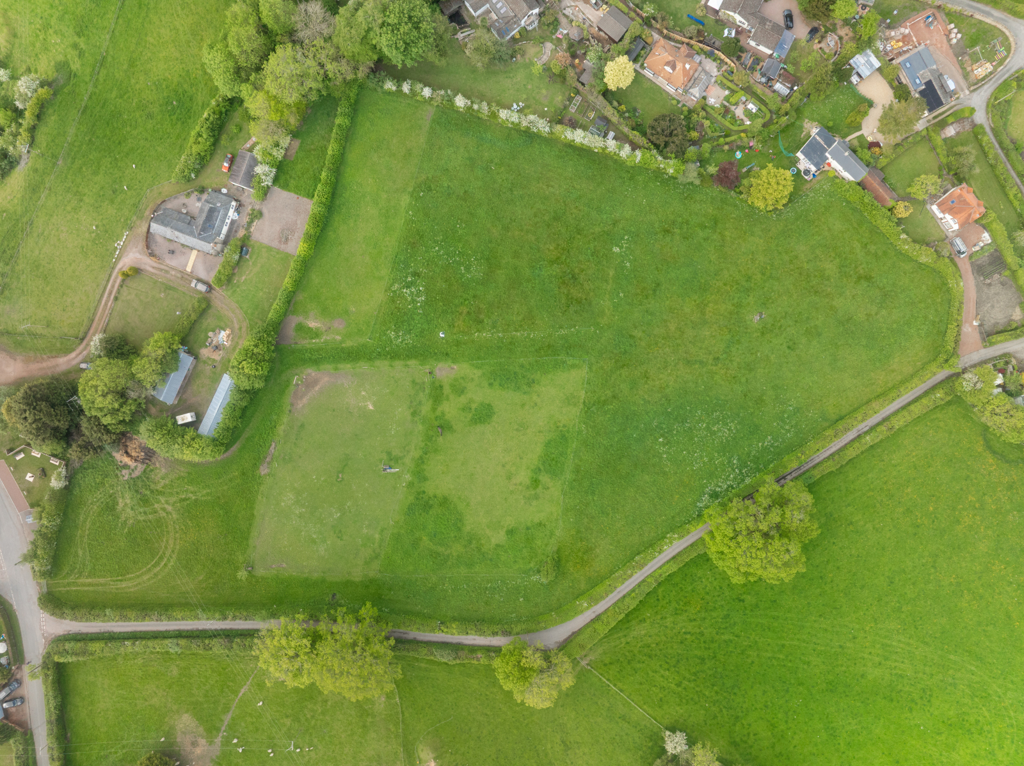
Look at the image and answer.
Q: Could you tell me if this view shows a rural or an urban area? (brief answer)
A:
rural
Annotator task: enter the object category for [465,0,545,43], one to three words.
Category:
house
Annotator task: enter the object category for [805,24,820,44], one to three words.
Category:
car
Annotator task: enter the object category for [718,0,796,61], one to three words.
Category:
house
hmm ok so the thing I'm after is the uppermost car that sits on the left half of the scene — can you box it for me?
[222,154,234,172]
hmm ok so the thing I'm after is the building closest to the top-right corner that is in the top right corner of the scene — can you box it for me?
[898,47,955,115]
